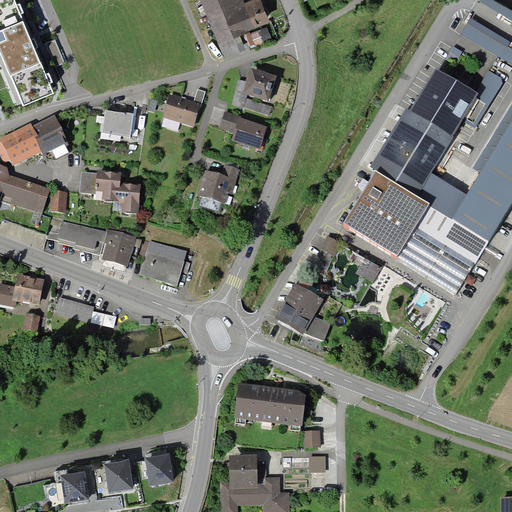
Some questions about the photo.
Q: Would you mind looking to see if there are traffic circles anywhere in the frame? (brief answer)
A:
Yes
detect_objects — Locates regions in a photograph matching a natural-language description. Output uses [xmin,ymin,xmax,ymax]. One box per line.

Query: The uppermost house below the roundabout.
[234,382,306,432]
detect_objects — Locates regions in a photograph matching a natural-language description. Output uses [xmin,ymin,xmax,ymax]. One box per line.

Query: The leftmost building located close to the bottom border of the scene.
[56,471,90,504]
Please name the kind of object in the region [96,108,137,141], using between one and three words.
house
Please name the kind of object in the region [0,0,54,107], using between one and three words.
building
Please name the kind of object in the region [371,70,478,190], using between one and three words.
building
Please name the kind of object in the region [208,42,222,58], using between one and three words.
vehicle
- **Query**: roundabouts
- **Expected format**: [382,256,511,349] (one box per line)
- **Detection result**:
[186,296,256,383]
